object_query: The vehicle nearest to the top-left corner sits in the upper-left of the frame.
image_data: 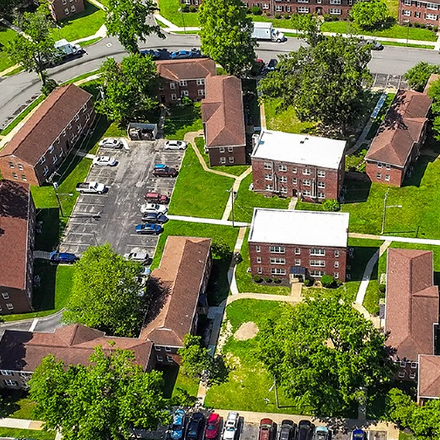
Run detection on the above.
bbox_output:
[52,42,84,59]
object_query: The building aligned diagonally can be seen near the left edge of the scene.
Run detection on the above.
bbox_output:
[0,84,94,186]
